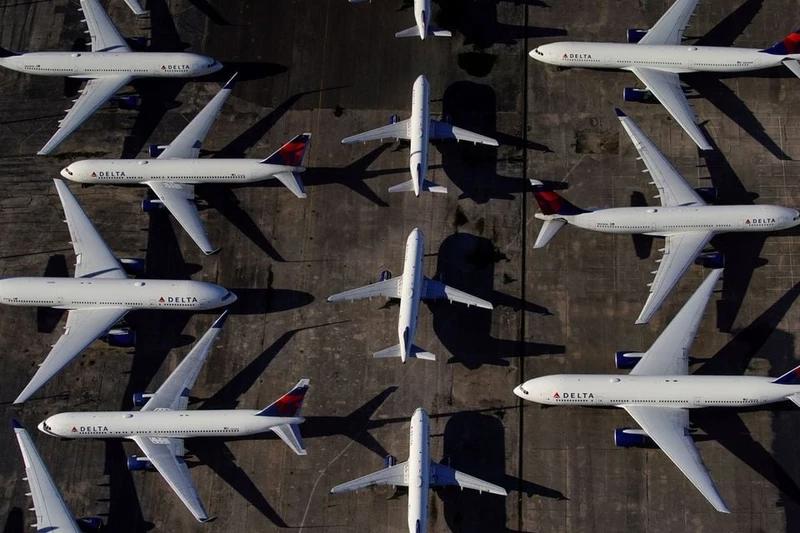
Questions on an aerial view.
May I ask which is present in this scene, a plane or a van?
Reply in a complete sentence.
This aerial view contains a plane.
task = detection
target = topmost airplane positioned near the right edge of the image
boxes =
[527,0,800,148]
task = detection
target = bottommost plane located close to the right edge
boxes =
[513,268,800,515]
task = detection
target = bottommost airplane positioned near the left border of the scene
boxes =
[10,417,104,533]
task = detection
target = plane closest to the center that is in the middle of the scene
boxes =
[327,229,491,363]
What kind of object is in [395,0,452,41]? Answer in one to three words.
airplane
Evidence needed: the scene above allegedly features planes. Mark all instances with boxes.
[331,409,506,533]
[527,0,800,148]
[126,0,152,13]
[59,73,312,254]
[38,310,310,521]
[395,0,452,41]
[341,76,498,196]
[0,0,223,155]
[0,178,237,402]
[327,229,491,363]
[529,107,800,323]
[513,268,800,515]
[10,417,104,533]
